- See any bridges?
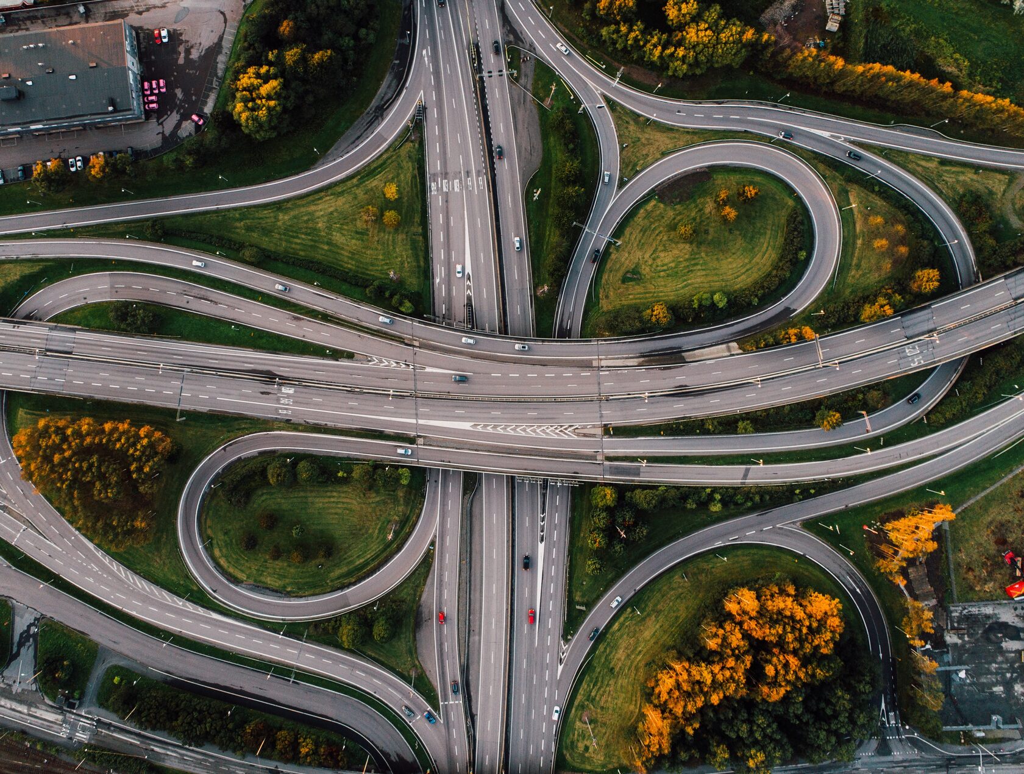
Yes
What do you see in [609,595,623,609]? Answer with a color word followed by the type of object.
white vehicle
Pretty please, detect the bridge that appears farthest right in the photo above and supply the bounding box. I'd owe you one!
[931,268,1015,369]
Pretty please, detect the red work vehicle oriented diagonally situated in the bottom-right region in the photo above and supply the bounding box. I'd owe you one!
[1001,551,1023,575]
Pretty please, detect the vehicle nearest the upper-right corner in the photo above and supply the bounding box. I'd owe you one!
[825,12,841,35]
